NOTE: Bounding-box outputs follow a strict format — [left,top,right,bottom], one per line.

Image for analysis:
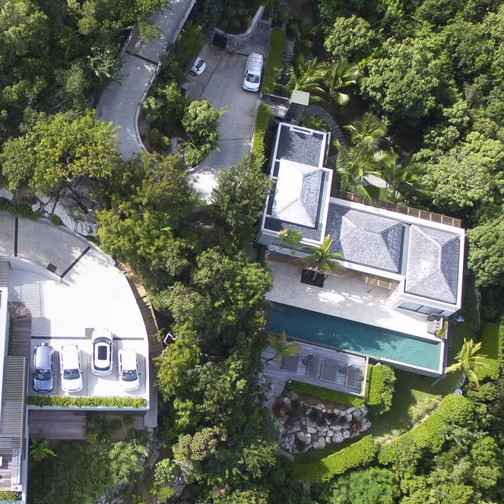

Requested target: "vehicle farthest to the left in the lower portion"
[30,340,55,393]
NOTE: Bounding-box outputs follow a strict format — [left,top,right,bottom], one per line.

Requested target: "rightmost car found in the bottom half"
[117,349,142,393]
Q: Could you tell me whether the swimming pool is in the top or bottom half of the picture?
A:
bottom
